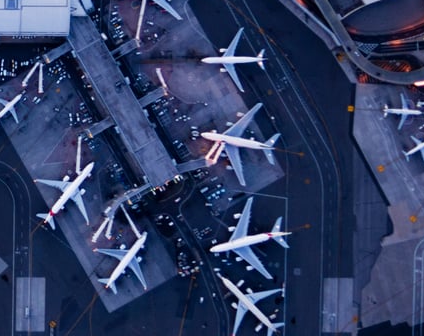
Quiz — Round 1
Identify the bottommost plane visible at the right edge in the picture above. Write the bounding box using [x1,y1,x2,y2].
[403,135,424,162]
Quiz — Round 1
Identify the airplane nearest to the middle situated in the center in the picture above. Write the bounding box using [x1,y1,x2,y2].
[202,102,280,187]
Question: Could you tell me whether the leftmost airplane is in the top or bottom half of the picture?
top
